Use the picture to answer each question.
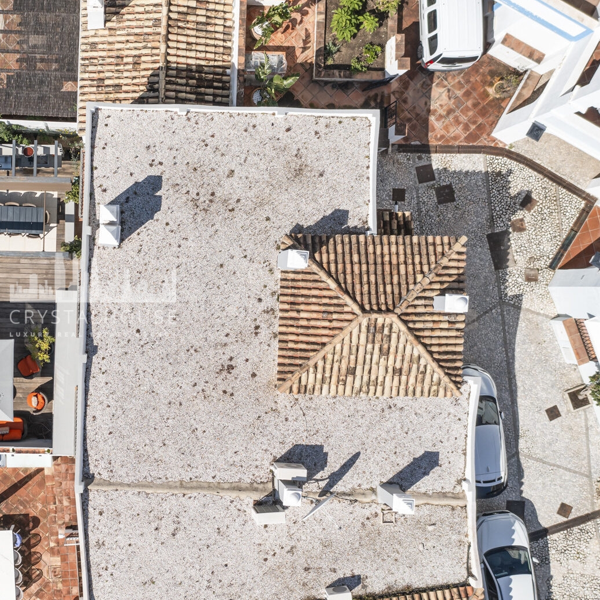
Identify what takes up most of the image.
buildings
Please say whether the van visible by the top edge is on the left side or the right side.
right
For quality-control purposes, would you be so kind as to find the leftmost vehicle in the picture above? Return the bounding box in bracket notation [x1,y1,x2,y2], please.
[410,0,485,71]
